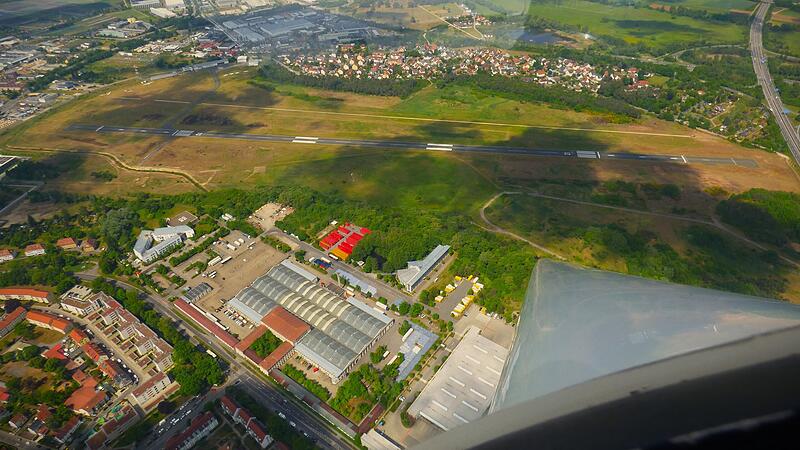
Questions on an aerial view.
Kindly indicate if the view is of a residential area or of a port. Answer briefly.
residential area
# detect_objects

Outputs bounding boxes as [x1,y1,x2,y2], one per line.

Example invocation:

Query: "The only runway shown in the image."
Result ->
[61,124,760,166]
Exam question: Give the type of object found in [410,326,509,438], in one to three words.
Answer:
building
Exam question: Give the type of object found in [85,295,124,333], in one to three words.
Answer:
house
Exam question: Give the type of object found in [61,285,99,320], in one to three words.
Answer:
building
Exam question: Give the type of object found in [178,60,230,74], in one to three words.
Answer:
hangar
